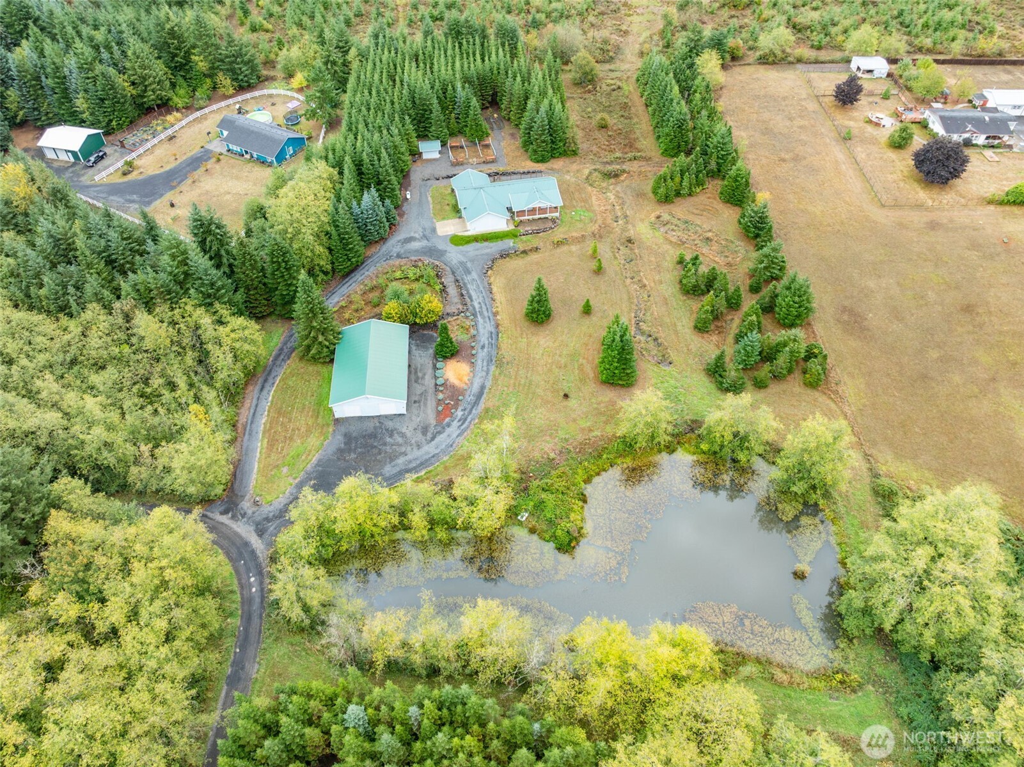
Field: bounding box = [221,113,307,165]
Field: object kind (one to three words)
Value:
house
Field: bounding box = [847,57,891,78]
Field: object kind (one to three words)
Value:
shed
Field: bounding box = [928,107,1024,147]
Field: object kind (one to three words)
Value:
house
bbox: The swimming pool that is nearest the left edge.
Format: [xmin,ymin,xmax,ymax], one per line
[245,108,273,122]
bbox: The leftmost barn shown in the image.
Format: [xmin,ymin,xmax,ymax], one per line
[37,125,107,163]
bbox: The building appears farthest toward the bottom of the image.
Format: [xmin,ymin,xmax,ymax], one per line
[329,318,410,418]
